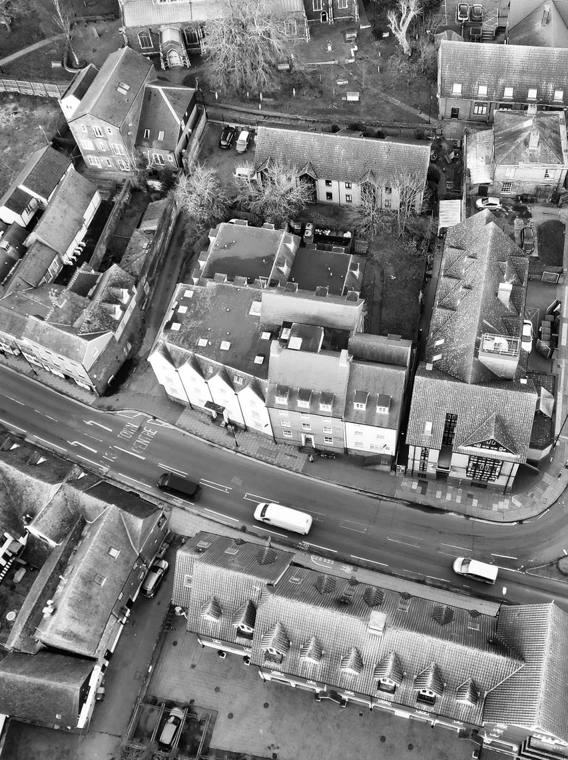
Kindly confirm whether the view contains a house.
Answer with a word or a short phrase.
Yes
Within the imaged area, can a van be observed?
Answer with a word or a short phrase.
Yes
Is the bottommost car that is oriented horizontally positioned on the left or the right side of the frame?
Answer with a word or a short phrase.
right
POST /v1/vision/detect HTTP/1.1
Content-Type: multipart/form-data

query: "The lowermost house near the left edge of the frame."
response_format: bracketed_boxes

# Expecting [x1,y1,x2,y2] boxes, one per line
[0,640,113,734]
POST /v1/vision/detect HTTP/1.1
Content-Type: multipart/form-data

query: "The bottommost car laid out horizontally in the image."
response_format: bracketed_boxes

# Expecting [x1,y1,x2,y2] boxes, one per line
[451,555,502,584]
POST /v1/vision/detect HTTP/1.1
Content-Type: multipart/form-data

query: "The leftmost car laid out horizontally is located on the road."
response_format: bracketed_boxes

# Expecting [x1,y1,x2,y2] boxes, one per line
[156,475,203,503]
